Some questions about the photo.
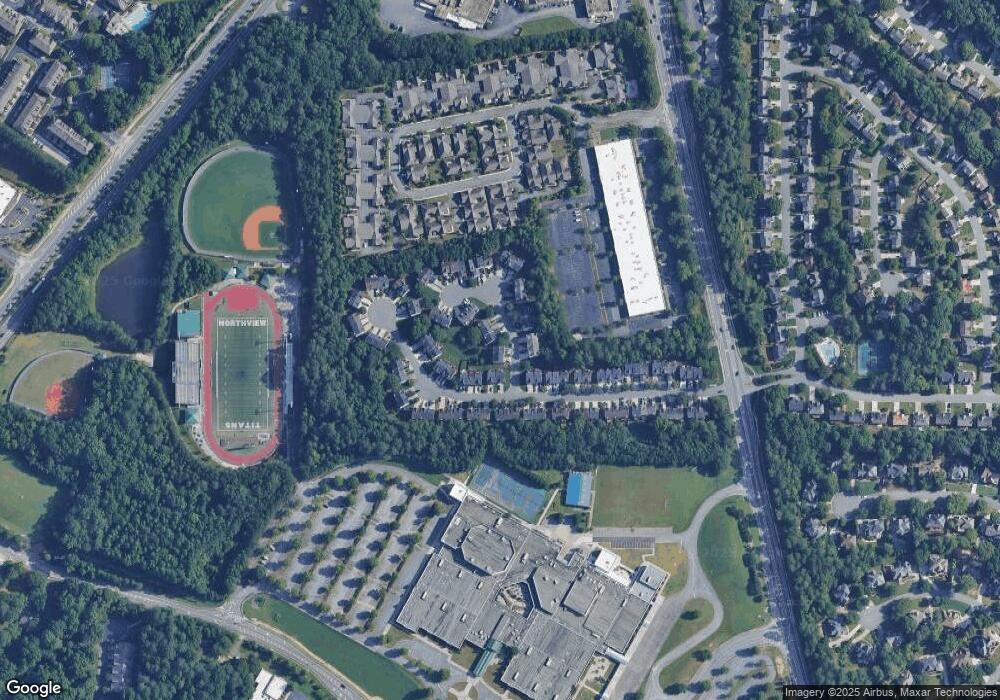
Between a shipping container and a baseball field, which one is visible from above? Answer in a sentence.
This aerial view contains a baseball field.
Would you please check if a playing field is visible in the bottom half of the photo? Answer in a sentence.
Yes, a playing field can be seen in the bottom half of the photo.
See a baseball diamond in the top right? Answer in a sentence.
No, I see no baseball diamond in the top right.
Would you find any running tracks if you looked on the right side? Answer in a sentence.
No, I can find no running track on the right side.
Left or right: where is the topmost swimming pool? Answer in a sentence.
The topmost swimming pool appears in the left half of the scene.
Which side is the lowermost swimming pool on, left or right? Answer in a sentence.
You can find the lowermost swimming pool on the right side of the picture.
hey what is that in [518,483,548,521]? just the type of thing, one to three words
tennis court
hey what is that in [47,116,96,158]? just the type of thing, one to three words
building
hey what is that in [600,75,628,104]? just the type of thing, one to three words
house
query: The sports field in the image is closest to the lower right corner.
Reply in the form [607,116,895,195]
[592,466,731,527]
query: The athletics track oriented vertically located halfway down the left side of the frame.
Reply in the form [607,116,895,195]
[203,284,283,468]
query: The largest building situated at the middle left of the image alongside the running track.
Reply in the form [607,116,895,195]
[178,309,201,336]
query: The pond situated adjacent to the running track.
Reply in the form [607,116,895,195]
[96,210,173,340]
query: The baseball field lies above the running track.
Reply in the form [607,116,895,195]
[183,145,298,259]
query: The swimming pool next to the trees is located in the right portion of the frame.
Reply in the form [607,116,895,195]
[815,338,840,365]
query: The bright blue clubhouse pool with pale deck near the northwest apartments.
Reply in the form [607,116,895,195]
[107,1,157,36]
